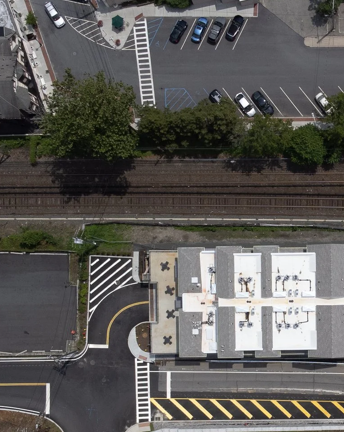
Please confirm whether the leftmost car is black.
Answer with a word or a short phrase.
No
